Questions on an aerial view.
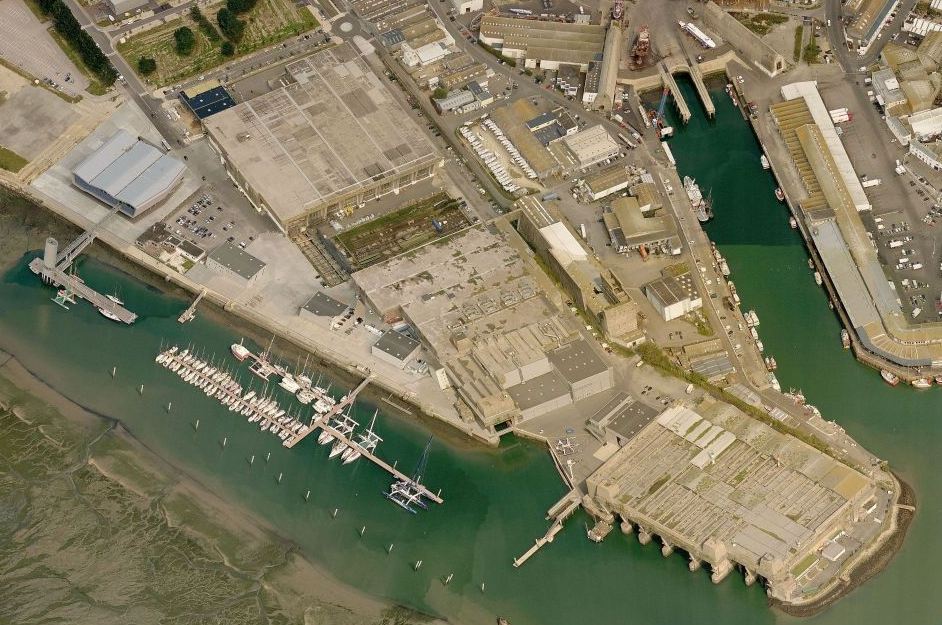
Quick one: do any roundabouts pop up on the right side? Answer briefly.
No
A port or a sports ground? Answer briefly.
port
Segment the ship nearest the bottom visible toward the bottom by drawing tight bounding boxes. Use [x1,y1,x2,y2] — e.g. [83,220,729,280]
[587,523,614,542]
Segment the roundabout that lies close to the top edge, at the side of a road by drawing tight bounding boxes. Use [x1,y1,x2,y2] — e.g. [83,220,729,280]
[324,15,363,41]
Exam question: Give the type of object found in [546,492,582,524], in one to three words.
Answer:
pier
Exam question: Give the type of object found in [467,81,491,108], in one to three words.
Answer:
building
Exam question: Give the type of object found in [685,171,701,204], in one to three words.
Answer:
ship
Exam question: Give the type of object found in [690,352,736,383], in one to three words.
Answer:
shed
